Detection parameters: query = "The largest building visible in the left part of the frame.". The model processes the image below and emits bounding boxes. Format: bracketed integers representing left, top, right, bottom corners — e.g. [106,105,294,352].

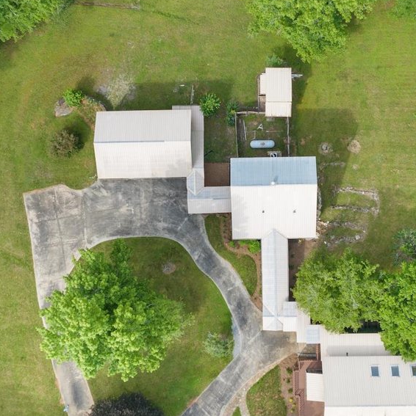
[94,109,192,178]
